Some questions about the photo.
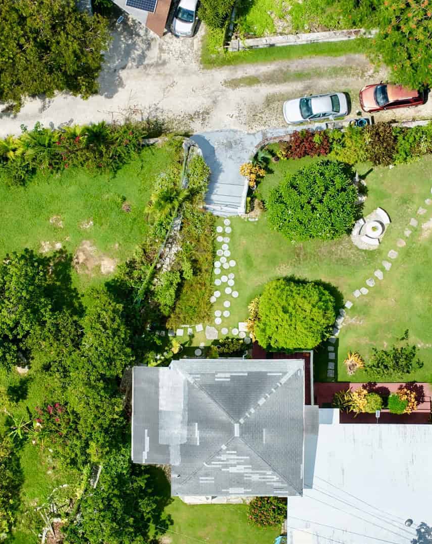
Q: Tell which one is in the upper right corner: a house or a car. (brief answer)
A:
car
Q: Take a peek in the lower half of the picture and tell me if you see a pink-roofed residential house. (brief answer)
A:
No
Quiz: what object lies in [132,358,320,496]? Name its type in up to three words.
house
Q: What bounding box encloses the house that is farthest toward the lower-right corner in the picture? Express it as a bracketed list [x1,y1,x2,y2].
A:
[286,408,432,544]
